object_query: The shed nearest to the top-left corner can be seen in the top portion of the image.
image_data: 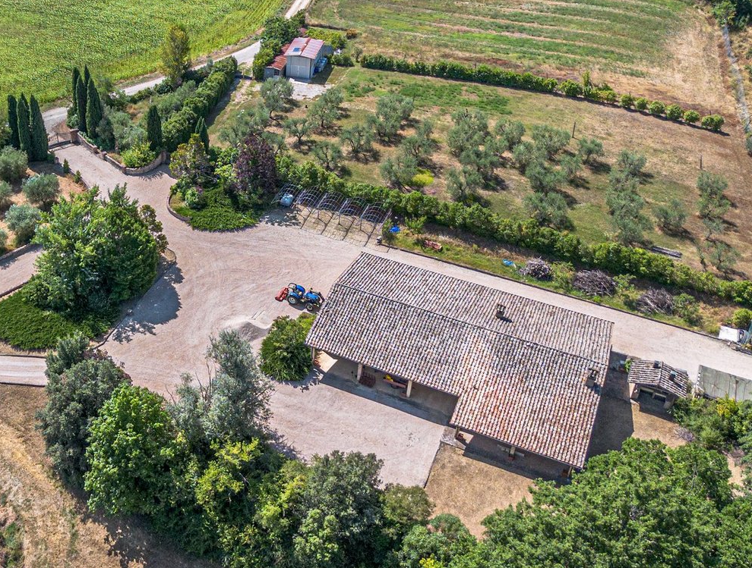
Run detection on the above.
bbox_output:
[272,43,336,79]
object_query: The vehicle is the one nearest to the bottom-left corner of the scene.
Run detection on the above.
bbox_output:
[286,280,324,311]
